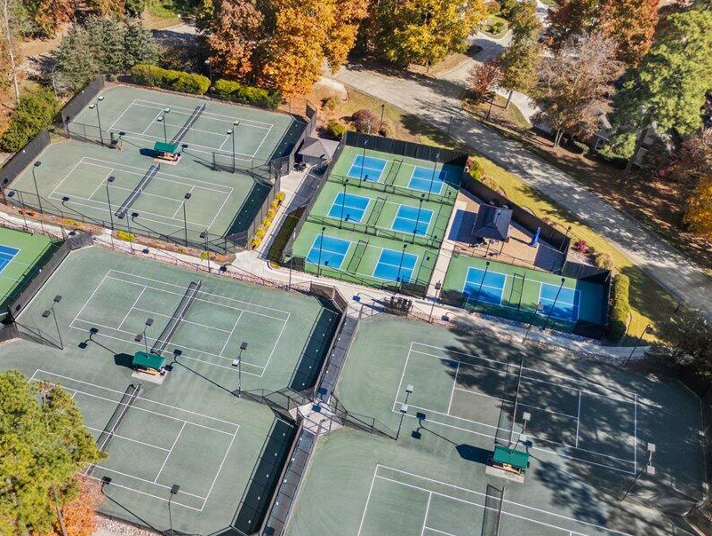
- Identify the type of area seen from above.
sports ground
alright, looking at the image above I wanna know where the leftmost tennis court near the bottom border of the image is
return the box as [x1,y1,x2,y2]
[0,323,315,536]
